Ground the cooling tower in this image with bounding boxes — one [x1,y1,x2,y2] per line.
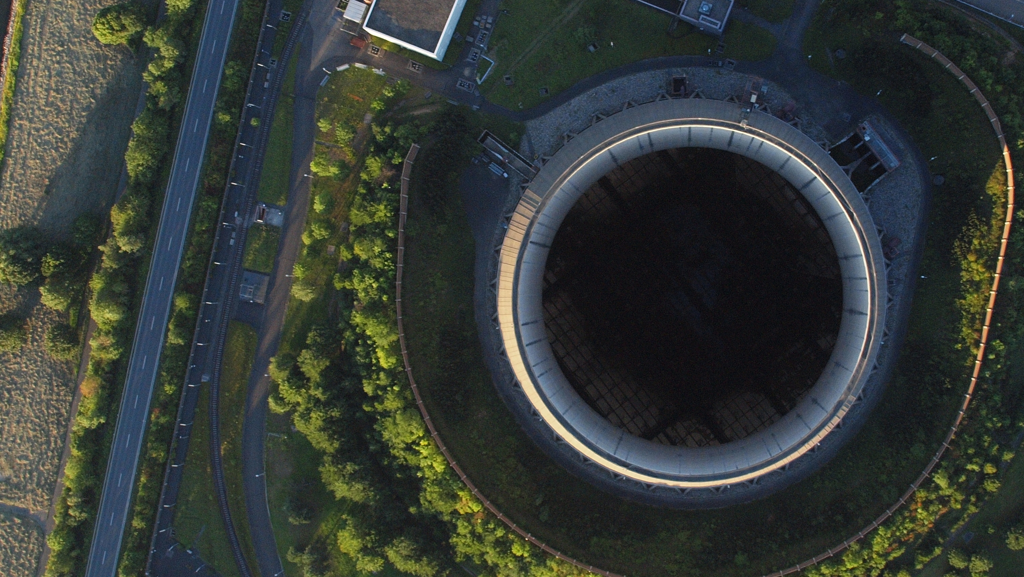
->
[486,86,899,499]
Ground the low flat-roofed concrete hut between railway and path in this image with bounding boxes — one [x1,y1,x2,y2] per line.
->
[239,271,272,303]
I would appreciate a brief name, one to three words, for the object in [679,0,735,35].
building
